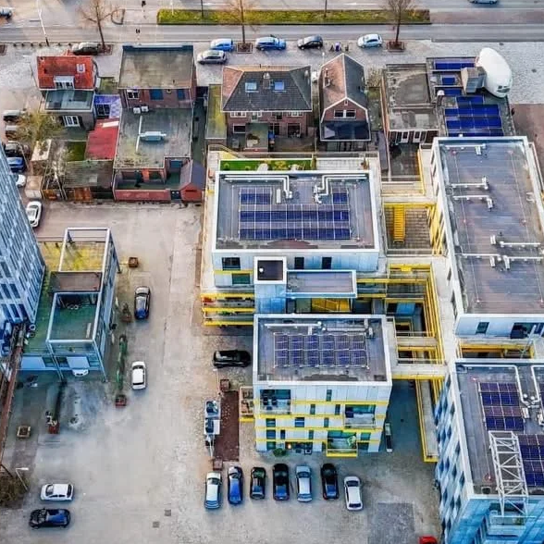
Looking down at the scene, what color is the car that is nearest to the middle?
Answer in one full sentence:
The car that is nearest to the middle is black.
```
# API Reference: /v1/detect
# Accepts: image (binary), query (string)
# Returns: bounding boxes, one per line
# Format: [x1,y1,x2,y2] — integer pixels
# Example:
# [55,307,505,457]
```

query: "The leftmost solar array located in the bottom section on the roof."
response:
[274,332,371,367]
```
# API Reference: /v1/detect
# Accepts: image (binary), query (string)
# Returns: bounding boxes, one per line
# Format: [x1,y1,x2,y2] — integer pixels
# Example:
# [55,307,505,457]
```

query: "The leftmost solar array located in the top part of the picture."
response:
[239,186,353,238]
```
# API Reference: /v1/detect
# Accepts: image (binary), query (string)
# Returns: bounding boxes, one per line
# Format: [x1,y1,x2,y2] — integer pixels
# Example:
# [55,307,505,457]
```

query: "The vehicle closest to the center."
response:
[210,348,252,368]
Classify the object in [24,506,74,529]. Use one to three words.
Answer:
car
